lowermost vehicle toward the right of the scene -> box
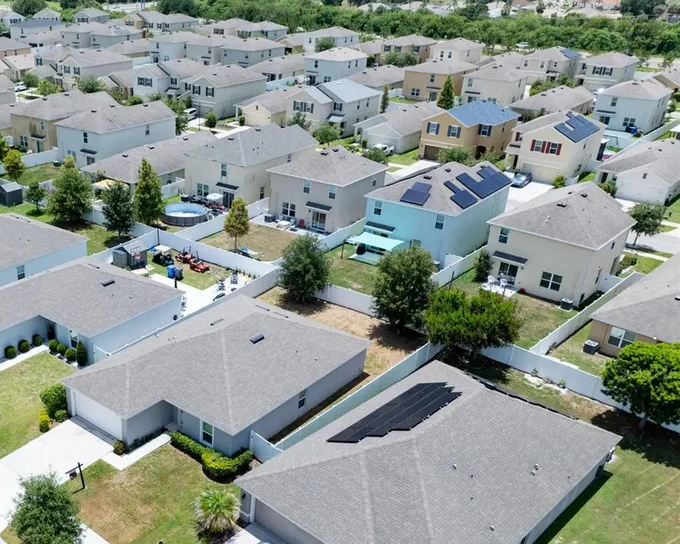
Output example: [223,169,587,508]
[510,172,531,186]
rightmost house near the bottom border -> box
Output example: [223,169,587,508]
[234,360,622,544]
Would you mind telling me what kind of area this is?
residential area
